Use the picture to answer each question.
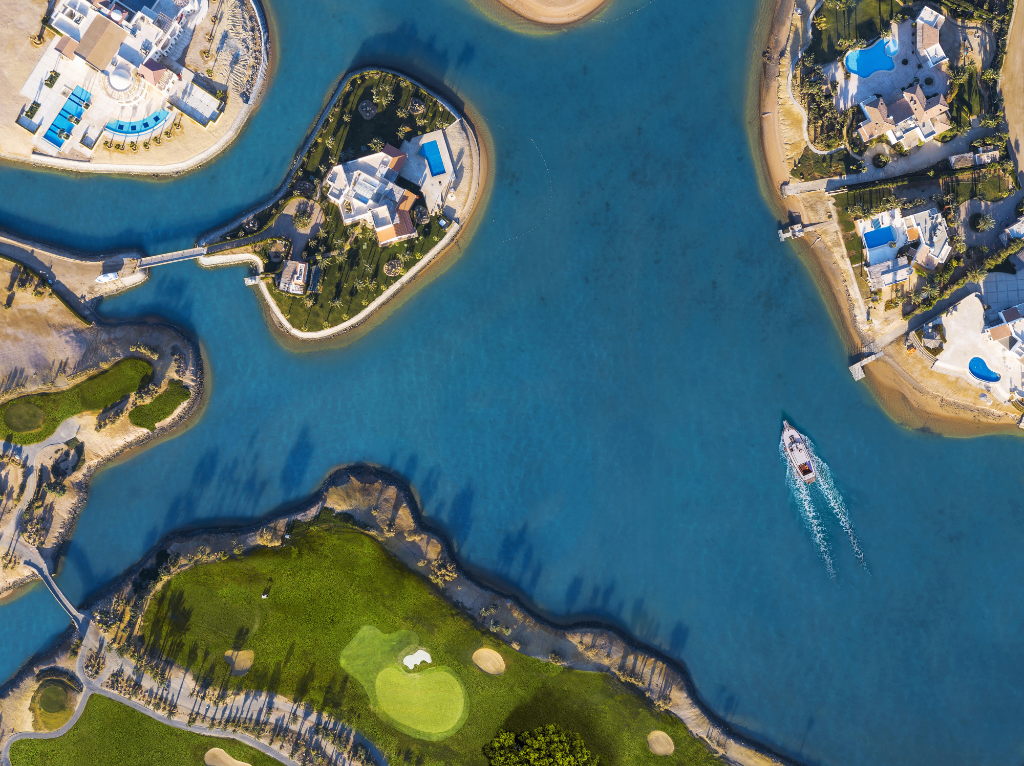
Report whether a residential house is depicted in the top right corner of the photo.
Yes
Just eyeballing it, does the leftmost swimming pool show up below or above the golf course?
above it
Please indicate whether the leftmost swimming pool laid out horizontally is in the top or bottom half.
top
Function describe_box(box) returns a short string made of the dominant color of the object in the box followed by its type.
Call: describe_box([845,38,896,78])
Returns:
blue swimming pool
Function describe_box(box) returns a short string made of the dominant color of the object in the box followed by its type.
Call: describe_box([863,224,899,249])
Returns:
blue swimming pool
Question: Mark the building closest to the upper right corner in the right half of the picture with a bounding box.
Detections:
[915,6,948,69]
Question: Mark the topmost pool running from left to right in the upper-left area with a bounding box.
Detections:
[104,106,172,137]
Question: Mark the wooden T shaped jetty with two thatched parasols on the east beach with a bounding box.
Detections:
[776,222,827,242]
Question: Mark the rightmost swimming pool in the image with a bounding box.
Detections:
[968,357,1001,382]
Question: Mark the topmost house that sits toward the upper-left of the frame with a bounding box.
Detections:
[52,0,198,113]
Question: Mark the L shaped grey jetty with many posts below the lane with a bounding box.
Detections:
[848,350,884,381]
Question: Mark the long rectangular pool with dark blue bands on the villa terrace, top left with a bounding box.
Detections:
[42,84,93,149]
